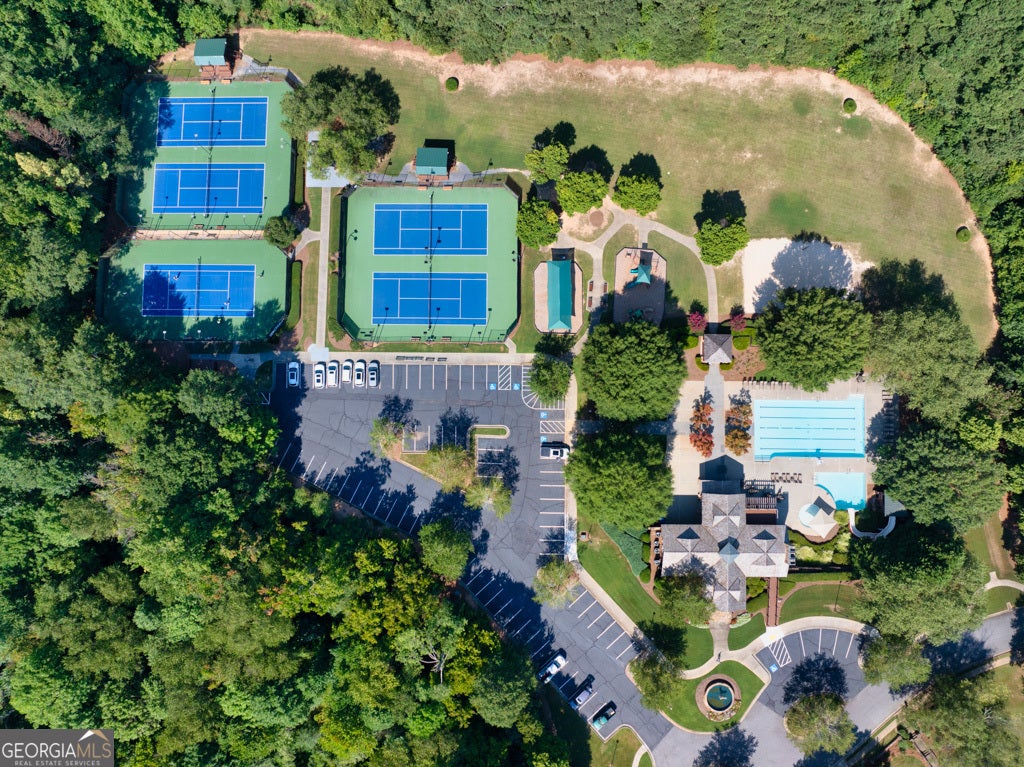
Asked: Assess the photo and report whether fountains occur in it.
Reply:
Yes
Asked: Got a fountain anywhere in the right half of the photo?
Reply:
Yes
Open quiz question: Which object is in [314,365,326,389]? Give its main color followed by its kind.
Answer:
white vehicle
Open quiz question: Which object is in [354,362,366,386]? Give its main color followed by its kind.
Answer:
white vehicle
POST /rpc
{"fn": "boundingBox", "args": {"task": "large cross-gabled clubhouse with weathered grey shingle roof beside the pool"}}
[657,480,791,613]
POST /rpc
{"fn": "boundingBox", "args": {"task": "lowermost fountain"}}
[696,674,742,714]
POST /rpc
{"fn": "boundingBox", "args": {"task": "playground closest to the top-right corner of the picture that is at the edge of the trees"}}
[613,246,668,338]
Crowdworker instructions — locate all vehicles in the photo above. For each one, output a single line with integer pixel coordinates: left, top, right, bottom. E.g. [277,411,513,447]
[539,655,565,684]
[327,361,339,386]
[541,448,569,458]
[288,362,300,386]
[592,706,616,729]
[354,362,366,386]
[314,365,326,389]
[368,362,379,386]
[569,686,592,709]
[343,361,353,383]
